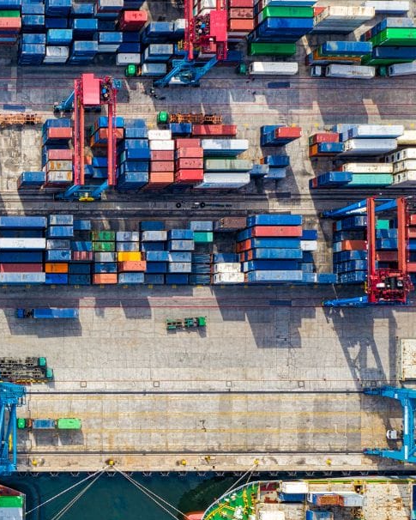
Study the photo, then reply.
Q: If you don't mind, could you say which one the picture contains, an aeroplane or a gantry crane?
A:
gantry crane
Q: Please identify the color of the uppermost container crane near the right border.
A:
red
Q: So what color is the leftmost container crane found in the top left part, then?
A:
red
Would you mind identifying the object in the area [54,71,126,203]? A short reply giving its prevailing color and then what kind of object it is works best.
red container crane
